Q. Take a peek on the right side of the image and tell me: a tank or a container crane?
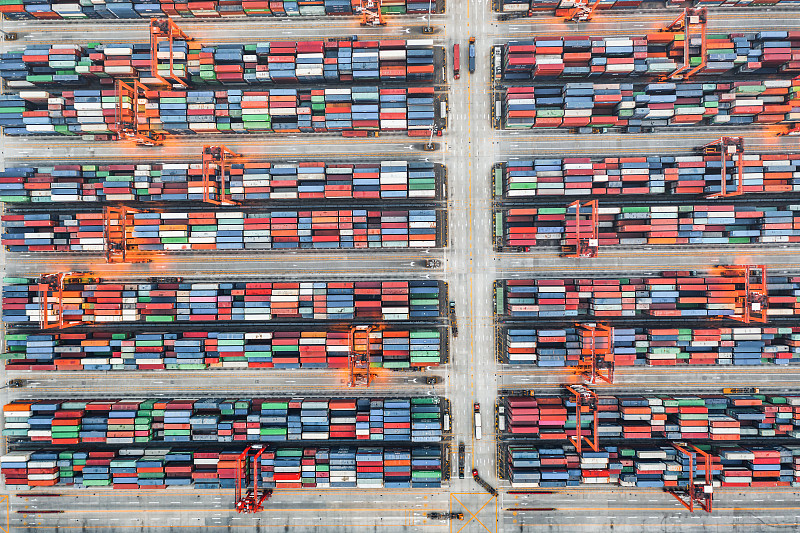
container crane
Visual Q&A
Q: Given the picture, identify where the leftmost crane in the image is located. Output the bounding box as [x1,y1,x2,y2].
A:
[37,273,96,331]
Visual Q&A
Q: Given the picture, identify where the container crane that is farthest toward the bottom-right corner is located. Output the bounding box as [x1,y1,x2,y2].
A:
[662,440,712,513]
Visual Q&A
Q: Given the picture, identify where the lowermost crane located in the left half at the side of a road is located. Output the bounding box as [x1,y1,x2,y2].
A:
[234,442,274,515]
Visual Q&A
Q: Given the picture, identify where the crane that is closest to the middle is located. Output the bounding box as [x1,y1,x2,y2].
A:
[345,326,380,388]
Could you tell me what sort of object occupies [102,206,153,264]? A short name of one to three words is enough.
container crane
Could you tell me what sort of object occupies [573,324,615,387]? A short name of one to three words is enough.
container crane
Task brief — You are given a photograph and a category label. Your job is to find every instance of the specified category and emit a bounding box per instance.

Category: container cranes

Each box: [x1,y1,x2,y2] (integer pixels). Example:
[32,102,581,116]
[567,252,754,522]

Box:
[662,440,712,513]
[234,442,274,515]
[355,0,391,24]
[657,5,709,81]
[712,266,769,324]
[102,206,153,264]
[202,144,244,206]
[37,273,96,331]
[691,137,745,200]
[573,324,615,387]
[558,200,599,259]
[149,16,197,89]
[559,385,598,453]
[345,326,380,388]
[114,78,165,145]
